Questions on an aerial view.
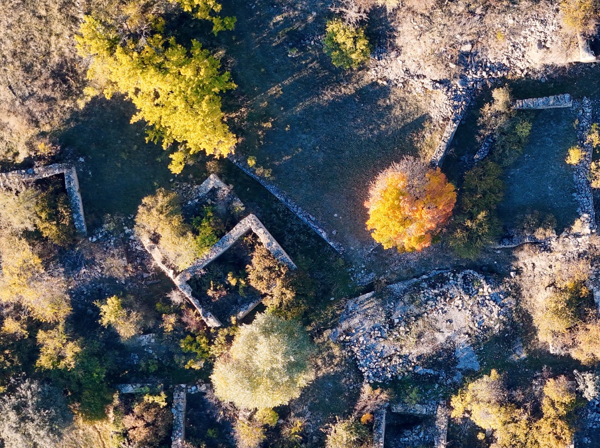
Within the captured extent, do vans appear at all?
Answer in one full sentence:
No, the photo shows no van.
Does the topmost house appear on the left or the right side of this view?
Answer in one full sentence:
It is on the left.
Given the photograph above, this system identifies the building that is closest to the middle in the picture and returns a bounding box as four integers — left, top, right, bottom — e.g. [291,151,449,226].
[139,217,303,328]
